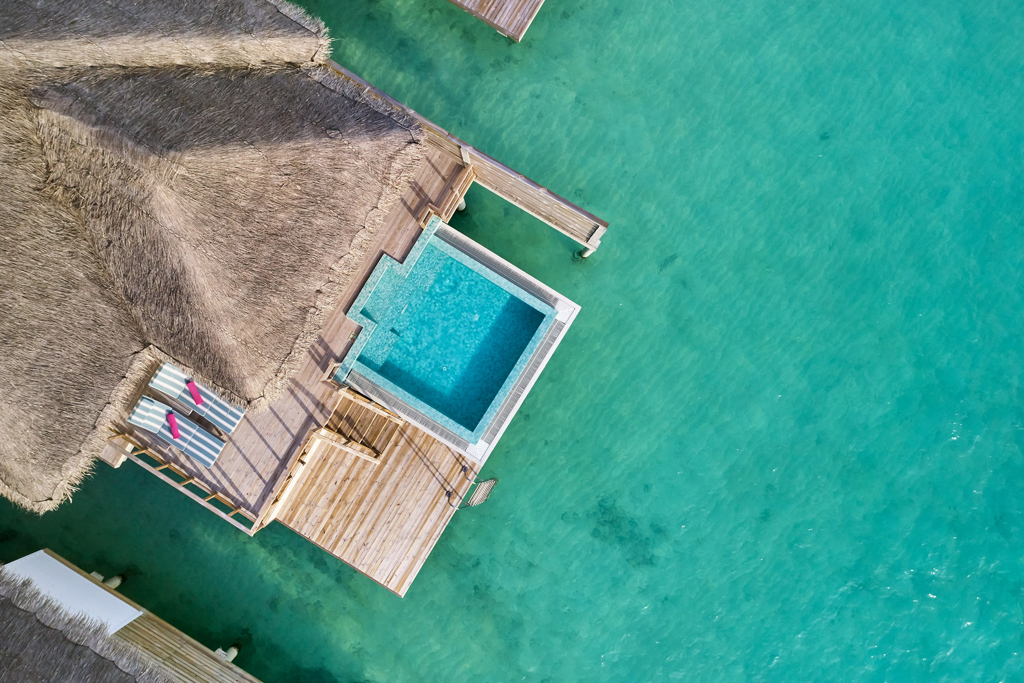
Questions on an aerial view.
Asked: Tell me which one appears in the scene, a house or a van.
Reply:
house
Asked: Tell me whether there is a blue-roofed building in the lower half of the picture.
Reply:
No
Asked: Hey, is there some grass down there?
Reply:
No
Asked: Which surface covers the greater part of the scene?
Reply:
water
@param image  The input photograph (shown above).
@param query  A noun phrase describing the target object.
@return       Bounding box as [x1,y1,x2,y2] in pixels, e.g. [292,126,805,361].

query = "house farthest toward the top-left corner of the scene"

[0,0,439,514]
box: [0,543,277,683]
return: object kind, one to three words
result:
house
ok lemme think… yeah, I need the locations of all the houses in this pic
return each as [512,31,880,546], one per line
[0,0,439,514]
[0,543,277,683]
